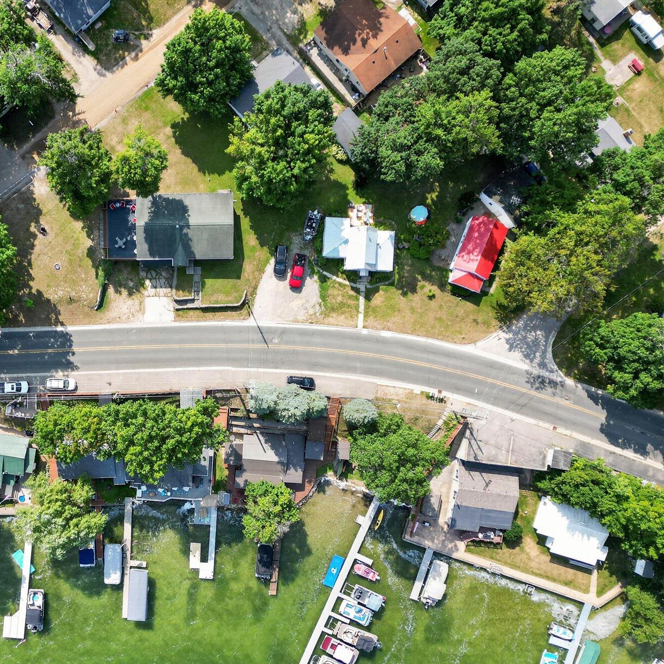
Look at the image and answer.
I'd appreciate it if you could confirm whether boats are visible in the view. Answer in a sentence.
Yes, this view includes a boat.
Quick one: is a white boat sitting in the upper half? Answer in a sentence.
No, no white boat appears in the upper half.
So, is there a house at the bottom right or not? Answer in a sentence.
Yes, a house shows up at the bottom right.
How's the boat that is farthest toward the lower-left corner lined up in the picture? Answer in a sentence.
The boat that is farthest toward the lower-left corner has been laid out vertically relative to the frame.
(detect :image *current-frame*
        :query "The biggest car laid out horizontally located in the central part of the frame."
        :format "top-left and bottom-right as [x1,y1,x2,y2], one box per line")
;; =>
[287,376,315,389]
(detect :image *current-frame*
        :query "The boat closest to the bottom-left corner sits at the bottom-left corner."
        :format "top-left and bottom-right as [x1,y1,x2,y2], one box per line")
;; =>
[25,589,44,635]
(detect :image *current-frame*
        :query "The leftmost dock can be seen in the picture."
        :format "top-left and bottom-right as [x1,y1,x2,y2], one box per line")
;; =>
[4,539,33,638]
